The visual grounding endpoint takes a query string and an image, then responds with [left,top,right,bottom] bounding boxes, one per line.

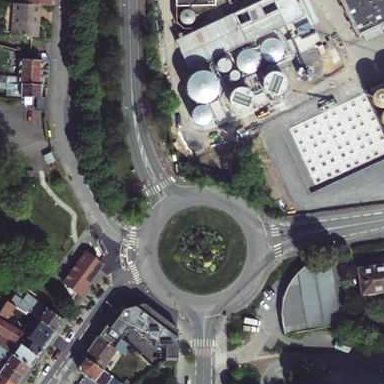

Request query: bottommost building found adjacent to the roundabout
[110,304,178,364]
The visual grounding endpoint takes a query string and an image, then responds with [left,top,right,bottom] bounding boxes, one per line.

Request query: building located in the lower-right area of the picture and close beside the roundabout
[281,265,339,332]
